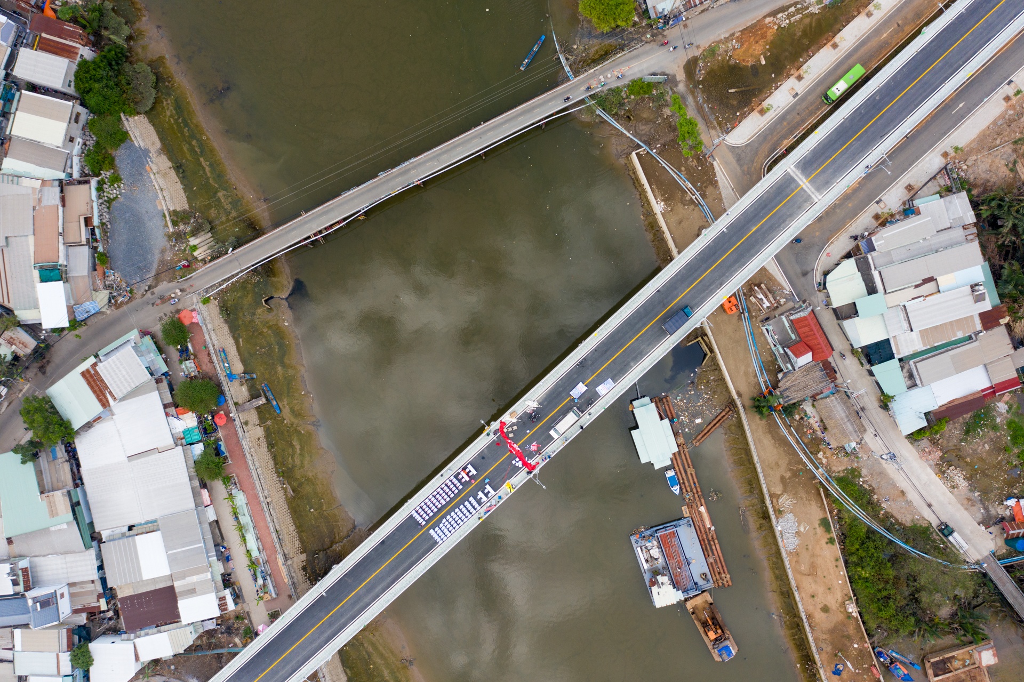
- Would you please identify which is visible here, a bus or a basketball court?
bus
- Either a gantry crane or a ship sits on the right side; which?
ship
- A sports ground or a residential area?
residential area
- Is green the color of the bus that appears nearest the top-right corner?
Yes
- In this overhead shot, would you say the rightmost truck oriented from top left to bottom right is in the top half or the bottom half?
bottom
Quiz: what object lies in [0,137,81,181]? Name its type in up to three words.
house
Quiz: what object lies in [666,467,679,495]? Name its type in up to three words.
boat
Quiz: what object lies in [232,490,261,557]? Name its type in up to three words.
shed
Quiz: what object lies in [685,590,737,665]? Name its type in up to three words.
ship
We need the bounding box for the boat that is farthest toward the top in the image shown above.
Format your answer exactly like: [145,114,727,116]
[521,36,544,70]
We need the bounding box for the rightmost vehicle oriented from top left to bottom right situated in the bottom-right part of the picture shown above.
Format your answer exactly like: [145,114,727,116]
[932,519,967,552]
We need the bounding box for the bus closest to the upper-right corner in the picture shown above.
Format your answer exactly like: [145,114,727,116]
[817,64,865,109]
